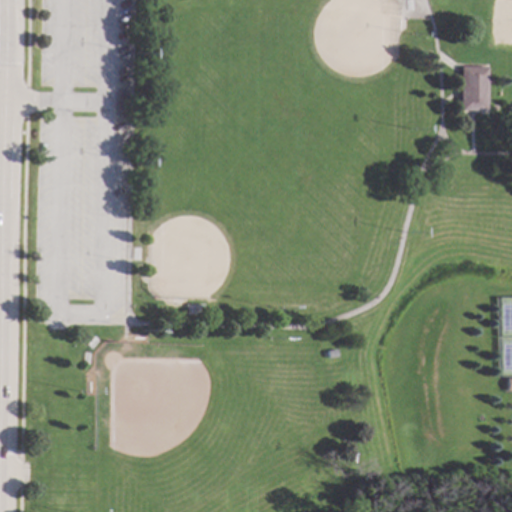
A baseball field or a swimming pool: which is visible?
baseball field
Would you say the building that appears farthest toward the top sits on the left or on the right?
right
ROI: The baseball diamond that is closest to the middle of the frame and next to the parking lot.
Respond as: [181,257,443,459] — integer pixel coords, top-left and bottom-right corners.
[149,214,230,306]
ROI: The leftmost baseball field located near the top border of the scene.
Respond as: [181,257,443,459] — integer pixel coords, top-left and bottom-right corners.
[314,0,404,77]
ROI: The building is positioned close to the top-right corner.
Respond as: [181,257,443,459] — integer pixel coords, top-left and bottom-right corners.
[462,64,491,112]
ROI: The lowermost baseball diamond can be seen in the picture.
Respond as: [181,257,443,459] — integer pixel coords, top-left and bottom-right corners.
[104,352,211,457]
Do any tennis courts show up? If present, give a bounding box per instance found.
[502,338,512,376]
[502,298,512,336]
